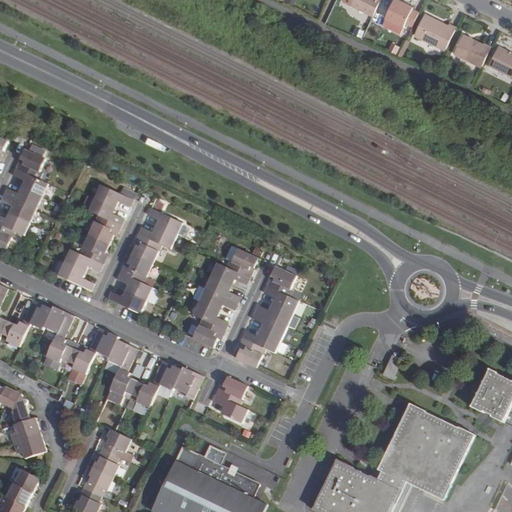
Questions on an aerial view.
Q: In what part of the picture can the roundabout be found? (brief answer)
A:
right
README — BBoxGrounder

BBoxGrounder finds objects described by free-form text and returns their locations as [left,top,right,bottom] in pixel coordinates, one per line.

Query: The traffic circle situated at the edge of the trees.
[390,254,462,326]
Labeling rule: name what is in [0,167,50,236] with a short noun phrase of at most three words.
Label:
house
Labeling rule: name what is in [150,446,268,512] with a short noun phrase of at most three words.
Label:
building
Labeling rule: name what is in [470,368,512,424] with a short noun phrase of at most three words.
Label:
building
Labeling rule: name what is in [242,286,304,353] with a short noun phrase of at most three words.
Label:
house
